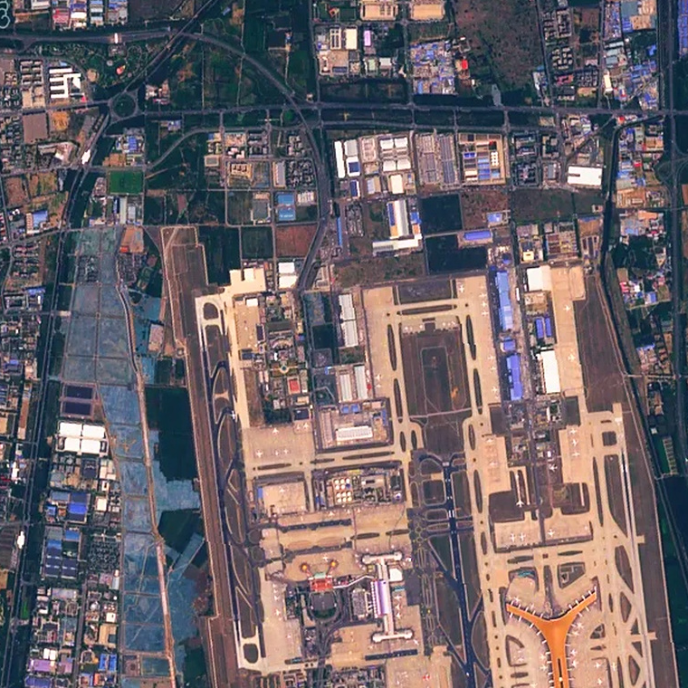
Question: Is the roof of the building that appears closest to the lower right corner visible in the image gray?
No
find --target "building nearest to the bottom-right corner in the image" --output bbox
[507,586,597,688]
